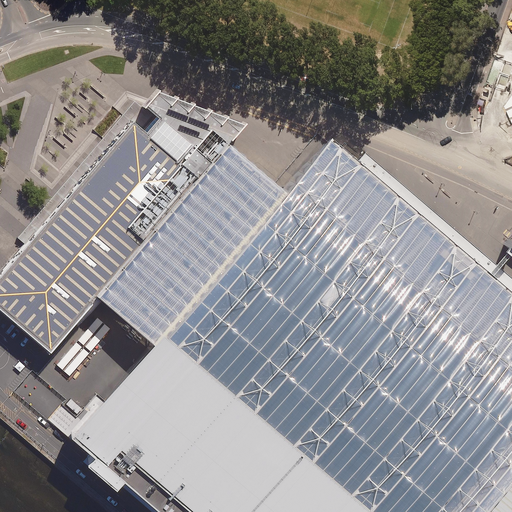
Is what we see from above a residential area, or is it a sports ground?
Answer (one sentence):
It's a sports ground.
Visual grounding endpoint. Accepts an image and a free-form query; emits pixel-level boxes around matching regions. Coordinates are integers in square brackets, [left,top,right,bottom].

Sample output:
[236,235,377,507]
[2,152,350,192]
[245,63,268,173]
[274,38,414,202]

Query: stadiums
[48,138,512,512]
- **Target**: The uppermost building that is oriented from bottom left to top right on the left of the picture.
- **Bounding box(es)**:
[0,122,232,354]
